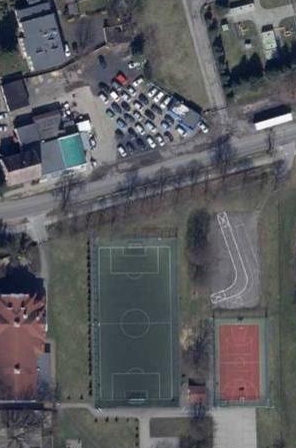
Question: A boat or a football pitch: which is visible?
football pitch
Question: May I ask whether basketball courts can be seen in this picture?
Yes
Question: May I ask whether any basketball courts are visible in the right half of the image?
Yes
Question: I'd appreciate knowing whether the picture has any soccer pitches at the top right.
No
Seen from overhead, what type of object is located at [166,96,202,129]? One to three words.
building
